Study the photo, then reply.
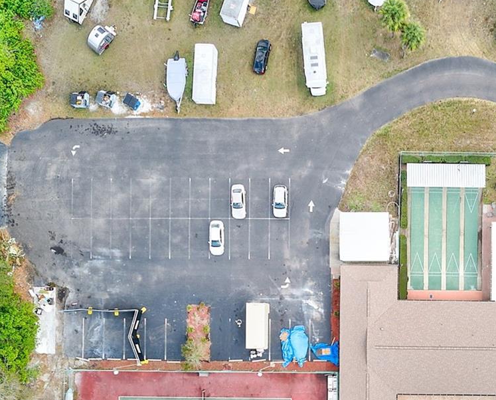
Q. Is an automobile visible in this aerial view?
Yes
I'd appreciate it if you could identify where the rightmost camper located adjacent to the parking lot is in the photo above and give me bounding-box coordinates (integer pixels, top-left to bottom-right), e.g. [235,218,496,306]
[302,16,328,100]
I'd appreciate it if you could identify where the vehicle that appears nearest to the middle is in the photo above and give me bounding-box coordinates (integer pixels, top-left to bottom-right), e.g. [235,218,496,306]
[230,184,246,218]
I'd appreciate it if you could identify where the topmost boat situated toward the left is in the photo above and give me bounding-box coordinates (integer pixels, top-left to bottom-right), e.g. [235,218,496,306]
[189,0,208,25]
